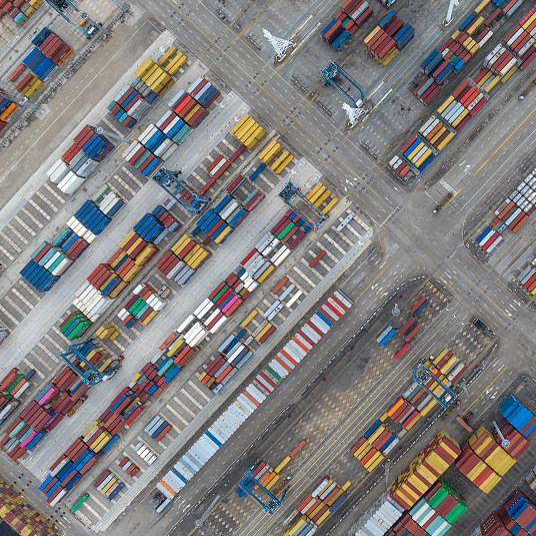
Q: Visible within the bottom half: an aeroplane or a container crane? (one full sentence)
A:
There is a container crane within the bottom half.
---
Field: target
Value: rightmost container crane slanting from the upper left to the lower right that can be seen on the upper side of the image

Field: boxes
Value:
[320,62,366,109]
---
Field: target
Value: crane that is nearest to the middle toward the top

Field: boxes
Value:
[279,181,331,230]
